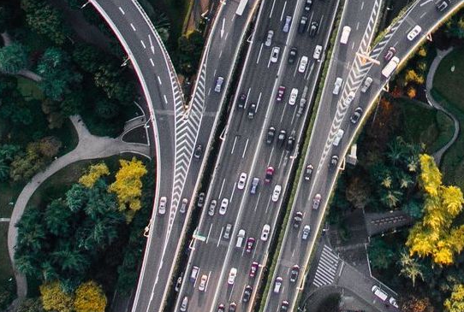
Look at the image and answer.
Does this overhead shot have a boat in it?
No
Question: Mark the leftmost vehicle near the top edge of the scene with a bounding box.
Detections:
[234,0,250,18]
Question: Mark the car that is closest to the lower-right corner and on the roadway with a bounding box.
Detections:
[387,294,401,311]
